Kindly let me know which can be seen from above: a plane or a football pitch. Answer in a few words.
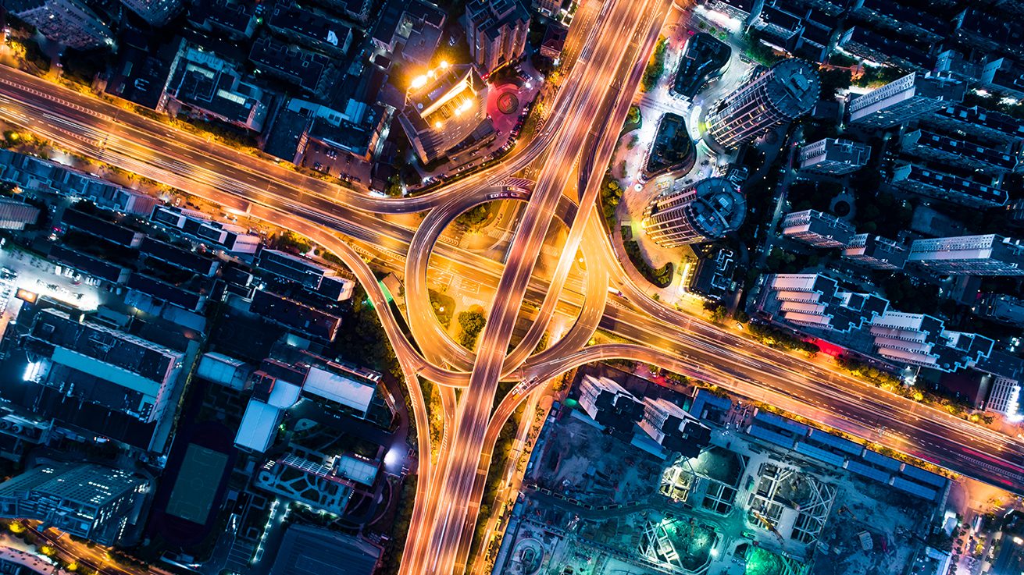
football pitch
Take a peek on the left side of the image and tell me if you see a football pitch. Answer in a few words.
Yes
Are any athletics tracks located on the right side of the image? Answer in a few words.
No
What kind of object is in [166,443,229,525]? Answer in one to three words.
soccer field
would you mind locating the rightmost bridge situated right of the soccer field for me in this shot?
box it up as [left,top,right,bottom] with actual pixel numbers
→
[423,0,648,575]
